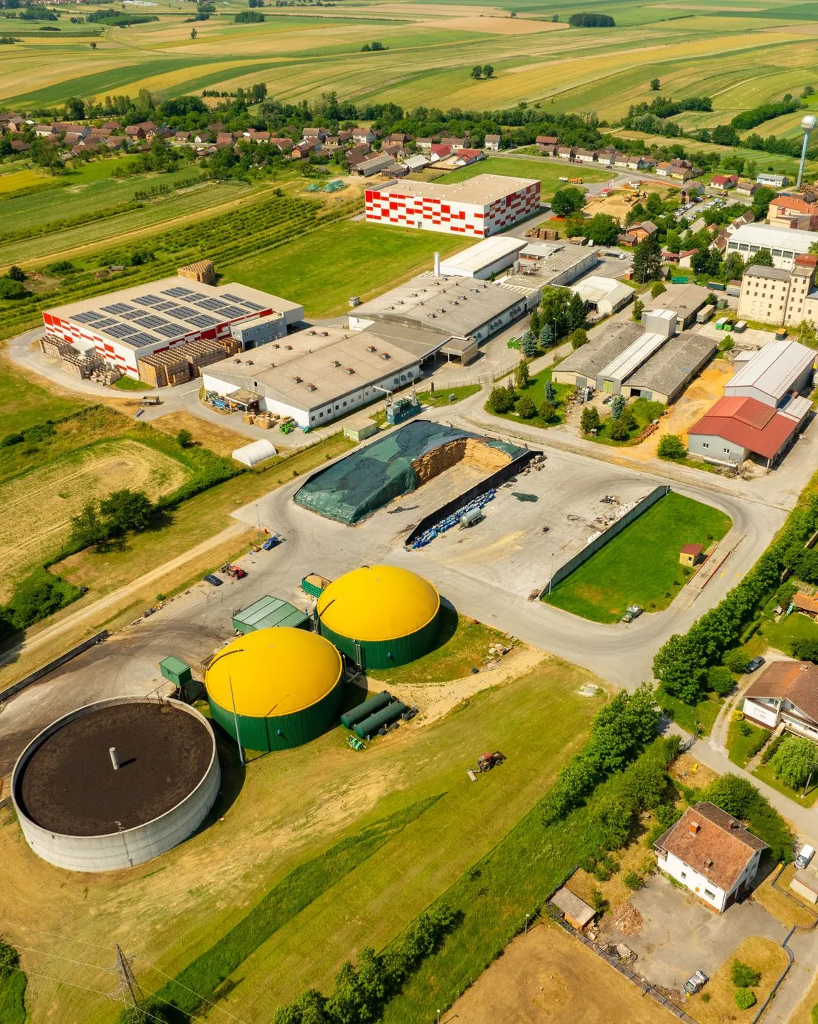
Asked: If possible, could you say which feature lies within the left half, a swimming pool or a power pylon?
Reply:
power pylon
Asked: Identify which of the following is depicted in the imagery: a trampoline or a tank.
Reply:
tank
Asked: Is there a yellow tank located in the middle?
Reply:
Yes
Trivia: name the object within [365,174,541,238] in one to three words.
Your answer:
building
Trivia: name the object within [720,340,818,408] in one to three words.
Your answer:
shed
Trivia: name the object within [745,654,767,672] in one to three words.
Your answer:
car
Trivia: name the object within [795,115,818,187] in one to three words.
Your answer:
water tower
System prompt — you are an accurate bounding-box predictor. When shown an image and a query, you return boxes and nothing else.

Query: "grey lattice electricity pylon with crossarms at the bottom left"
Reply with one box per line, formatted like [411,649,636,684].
[96,944,143,1019]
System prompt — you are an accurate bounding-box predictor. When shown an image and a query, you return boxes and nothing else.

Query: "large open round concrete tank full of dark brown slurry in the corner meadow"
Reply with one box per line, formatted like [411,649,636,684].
[11,671,220,871]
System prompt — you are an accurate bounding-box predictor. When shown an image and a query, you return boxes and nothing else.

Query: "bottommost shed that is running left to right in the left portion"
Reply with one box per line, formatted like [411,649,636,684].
[231,594,312,634]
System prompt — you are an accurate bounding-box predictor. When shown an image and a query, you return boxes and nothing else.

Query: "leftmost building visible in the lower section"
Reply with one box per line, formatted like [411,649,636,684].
[160,655,199,702]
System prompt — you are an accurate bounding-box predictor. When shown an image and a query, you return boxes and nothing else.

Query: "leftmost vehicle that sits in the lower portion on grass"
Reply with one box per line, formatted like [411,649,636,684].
[458,748,506,770]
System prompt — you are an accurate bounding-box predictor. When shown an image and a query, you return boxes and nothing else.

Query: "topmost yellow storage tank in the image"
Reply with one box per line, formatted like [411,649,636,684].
[315,566,441,668]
